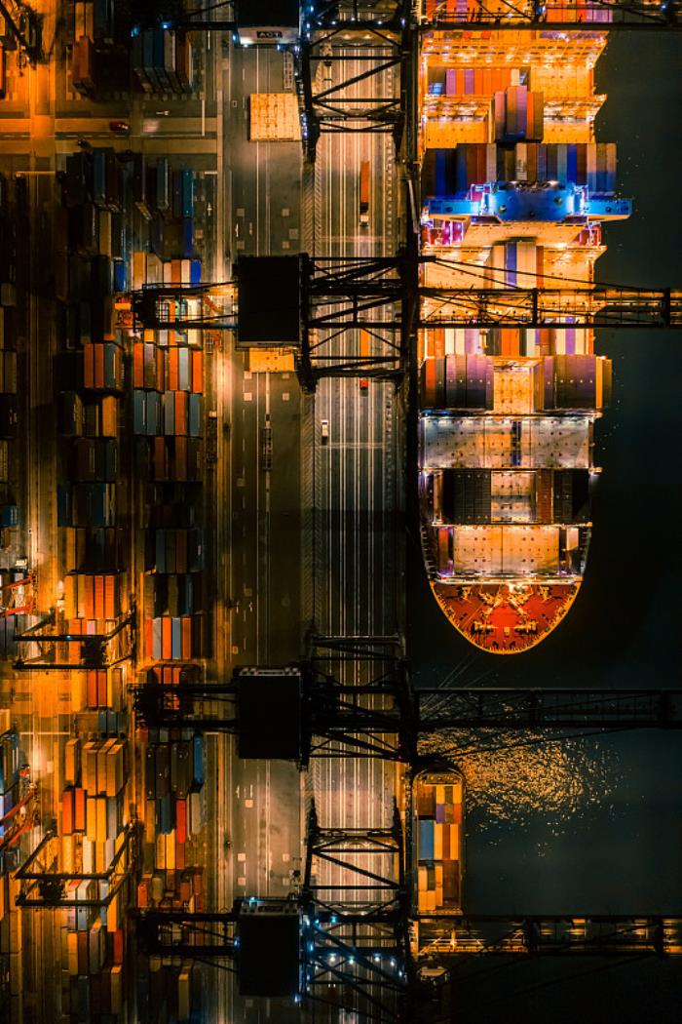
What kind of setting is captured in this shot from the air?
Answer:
port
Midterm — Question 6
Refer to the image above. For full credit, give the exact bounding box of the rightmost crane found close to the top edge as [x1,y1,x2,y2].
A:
[116,0,682,159]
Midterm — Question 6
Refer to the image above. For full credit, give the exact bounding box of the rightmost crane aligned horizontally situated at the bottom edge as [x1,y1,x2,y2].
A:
[116,798,682,1024]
